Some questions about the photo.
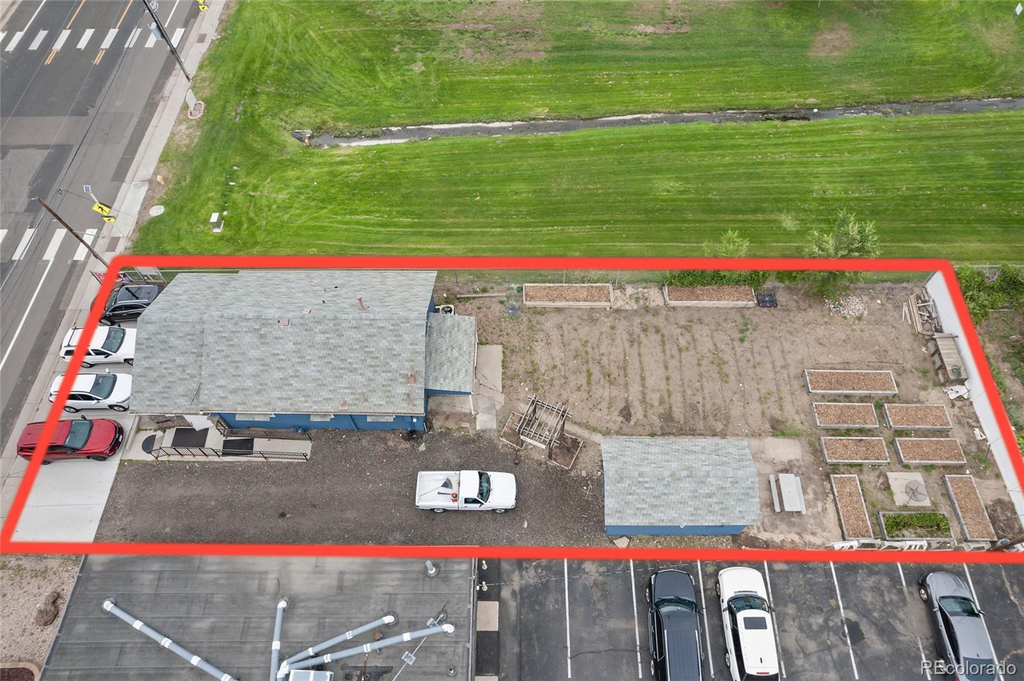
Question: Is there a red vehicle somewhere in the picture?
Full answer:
Yes, the photo shows a red vehicle.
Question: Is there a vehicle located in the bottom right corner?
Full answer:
Yes, a vehicle appears in the bottom right corner.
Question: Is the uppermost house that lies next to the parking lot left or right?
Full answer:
You can find the uppermost house that lies next to the parking lot on the left side of the picture.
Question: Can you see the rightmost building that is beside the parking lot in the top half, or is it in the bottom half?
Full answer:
Seen from above, the rightmost building that is beside the parking lot lies in the bottom half of the view.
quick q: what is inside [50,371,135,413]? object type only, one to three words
car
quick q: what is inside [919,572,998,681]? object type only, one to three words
car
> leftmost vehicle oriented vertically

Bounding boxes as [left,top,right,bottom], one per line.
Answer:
[645,570,704,681]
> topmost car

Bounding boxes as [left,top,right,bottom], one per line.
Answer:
[93,281,168,326]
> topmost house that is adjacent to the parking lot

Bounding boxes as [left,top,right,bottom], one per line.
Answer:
[130,267,479,436]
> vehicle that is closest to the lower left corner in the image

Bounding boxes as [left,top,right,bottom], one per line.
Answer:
[20,416,123,465]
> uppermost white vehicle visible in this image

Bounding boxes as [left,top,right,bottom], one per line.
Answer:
[65,329,139,369]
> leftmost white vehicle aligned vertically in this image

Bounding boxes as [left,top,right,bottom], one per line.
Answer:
[716,568,780,681]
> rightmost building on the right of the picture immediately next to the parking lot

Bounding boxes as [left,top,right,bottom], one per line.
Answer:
[599,437,760,537]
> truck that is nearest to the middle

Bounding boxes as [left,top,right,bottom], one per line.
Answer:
[412,465,520,514]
